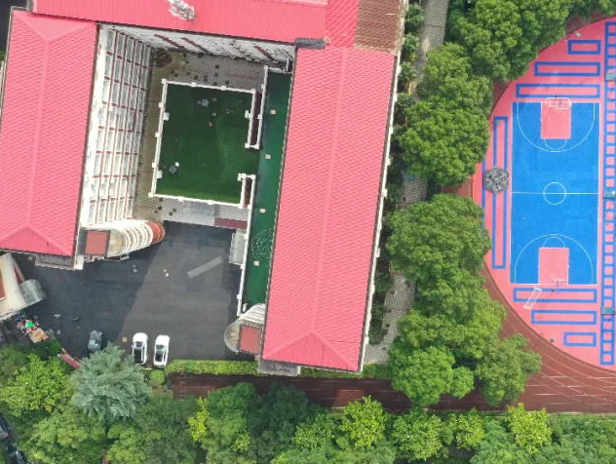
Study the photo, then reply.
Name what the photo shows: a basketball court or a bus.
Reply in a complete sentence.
Of the two, only a basketball court appears.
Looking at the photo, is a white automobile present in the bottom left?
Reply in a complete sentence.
Yes, a white automobile appears in the bottom left.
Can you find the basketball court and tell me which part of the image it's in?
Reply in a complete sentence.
The basketball court sits in the right section of the image.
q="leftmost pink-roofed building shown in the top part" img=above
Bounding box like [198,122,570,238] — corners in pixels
[0,4,164,272]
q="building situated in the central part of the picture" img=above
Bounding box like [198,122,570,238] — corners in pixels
[224,39,401,378]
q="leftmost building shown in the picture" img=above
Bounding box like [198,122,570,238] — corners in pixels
[0,254,57,320]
